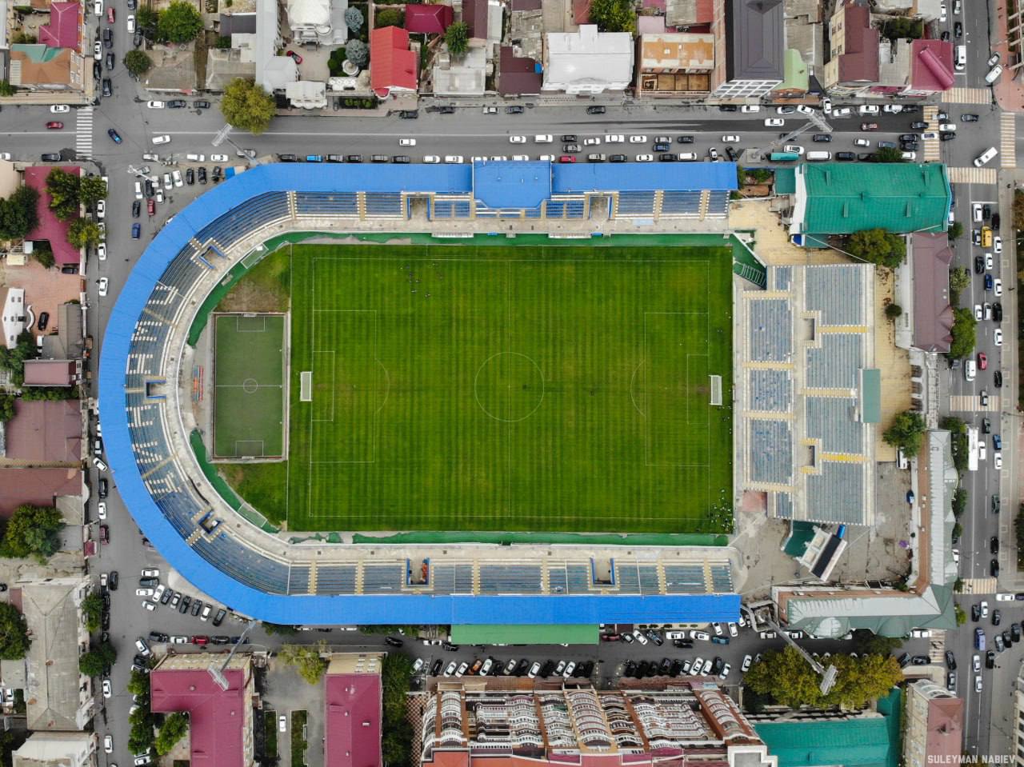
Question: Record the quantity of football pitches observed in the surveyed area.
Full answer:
The picture shows 2 football pitches.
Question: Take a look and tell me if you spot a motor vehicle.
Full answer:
Yes, there is a motor vehicle in the image.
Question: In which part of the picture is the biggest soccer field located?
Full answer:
The biggest soccer field is located in the center region of the scene.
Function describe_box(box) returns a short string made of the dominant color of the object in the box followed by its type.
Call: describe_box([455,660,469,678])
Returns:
white car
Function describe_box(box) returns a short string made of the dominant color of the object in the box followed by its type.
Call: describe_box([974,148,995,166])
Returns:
white vehicle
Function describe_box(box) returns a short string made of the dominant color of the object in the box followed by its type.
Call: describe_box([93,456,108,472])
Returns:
white car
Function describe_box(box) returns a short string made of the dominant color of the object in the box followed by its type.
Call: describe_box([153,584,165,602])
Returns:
white vehicle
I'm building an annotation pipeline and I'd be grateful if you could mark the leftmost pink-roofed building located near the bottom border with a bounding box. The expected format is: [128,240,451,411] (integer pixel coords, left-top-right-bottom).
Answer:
[150,654,253,767]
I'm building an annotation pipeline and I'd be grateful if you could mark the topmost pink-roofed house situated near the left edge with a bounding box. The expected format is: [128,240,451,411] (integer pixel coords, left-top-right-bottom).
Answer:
[37,2,83,59]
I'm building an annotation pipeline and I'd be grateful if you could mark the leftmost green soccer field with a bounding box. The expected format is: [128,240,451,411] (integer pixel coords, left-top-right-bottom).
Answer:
[208,310,289,463]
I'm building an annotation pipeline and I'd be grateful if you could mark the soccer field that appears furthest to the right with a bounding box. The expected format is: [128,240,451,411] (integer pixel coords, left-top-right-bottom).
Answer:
[287,245,733,535]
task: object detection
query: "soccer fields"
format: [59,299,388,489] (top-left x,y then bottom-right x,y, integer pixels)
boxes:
[208,310,289,463]
[287,245,733,535]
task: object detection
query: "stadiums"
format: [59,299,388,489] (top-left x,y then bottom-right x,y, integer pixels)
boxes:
[98,161,741,624]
